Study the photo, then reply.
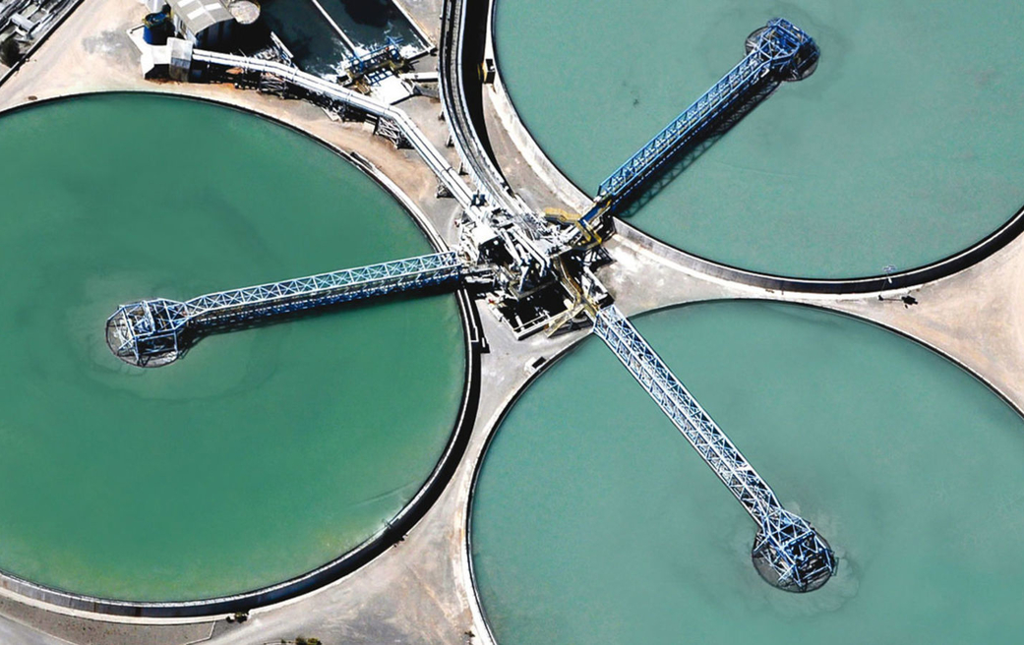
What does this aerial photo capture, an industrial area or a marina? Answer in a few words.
industrial area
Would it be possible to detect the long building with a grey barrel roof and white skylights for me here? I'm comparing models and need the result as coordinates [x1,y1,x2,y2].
[166,0,231,49]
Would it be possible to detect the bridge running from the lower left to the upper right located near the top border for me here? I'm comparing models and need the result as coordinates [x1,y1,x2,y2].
[594,18,814,215]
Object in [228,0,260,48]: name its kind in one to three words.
silo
